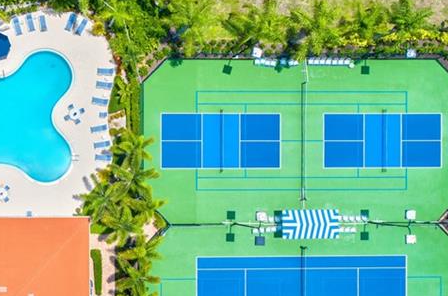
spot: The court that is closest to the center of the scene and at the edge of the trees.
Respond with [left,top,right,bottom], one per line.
[161,114,280,168]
